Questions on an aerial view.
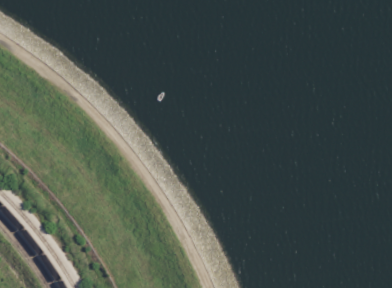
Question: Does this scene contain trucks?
No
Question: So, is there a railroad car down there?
Yes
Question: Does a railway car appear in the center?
No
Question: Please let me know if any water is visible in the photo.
Yes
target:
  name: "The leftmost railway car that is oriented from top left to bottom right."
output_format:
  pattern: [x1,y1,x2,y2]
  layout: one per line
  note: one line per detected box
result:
[0,206,24,232]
